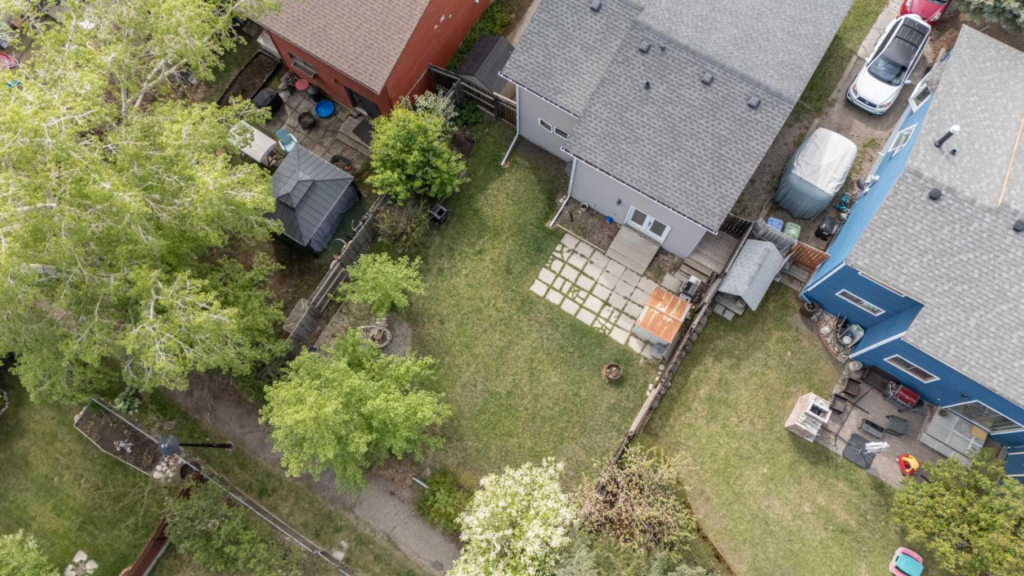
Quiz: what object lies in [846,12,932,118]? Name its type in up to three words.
car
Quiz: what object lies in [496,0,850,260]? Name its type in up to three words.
house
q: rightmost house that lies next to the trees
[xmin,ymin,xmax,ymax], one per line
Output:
[801,24,1024,451]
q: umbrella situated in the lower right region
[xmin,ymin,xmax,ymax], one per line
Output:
[844,434,893,466]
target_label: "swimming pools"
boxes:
[315,100,334,119]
